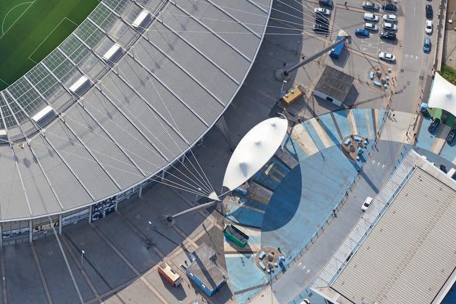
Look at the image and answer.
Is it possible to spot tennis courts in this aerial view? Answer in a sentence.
No, no tennis court is visible in the scene.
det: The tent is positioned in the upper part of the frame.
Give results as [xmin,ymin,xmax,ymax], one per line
[428,73,456,117]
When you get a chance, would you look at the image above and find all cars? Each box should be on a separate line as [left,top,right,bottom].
[361,196,373,213]
[318,0,335,7]
[382,22,397,31]
[362,1,379,11]
[355,29,370,36]
[382,14,397,22]
[315,8,329,17]
[425,20,432,34]
[423,39,431,52]
[382,3,397,11]
[426,6,433,19]
[379,52,395,61]
[298,297,313,304]
[363,23,379,31]
[315,15,329,23]
[427,118,441,132]
[313,23,328,33]
[380,30,397,41]
[446,129,456,143]
[436,161,448,174]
